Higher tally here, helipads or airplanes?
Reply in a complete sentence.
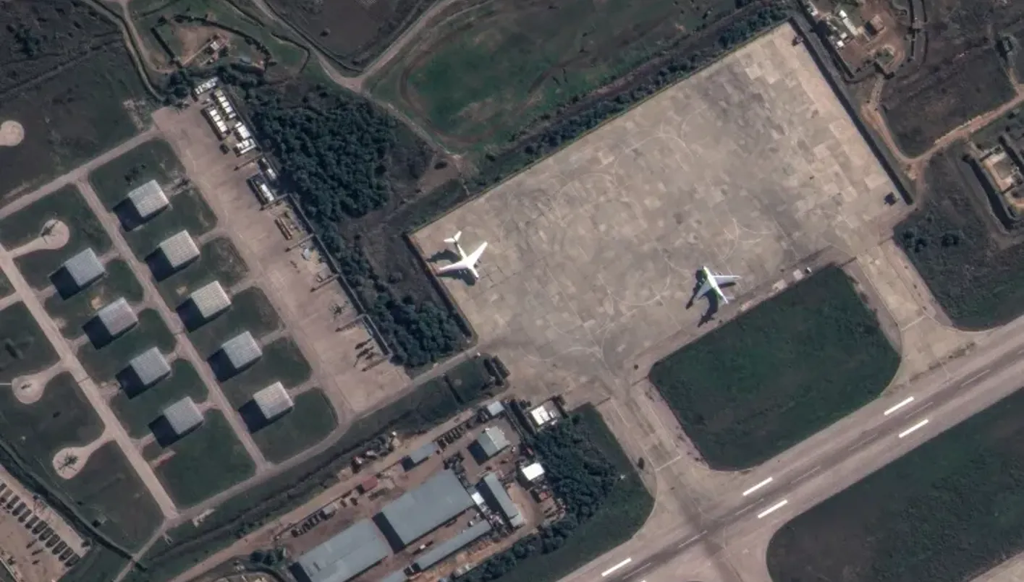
There are more helipads than airplanes.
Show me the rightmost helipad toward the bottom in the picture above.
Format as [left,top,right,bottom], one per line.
[52,426,117,476]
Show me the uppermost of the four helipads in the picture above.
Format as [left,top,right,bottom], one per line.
[0,119,24,147]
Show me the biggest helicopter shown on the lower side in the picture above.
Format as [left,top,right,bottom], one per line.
[56,448,82,471]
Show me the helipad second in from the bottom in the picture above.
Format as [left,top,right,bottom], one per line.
[13,354,74,403]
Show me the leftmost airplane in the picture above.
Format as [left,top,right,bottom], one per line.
[441,230,488,277]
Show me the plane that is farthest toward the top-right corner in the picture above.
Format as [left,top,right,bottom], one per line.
[695,267,742,310]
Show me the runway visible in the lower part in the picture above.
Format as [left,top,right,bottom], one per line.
[560,316,1024,582]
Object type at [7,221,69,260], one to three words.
helipad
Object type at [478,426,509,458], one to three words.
building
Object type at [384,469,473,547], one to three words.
building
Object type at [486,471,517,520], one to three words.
shed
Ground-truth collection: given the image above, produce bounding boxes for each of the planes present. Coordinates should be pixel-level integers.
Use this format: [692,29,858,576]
[695,267,742,310]
[441,230,488,277]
